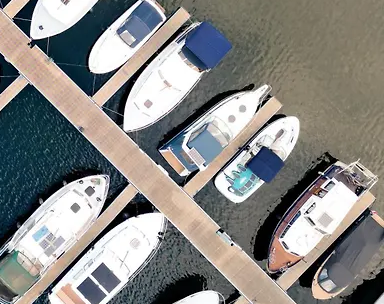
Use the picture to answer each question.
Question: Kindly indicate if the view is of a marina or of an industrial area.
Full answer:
The picture captures a marina.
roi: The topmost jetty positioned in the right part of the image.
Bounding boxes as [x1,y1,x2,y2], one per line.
[182,96,284,202]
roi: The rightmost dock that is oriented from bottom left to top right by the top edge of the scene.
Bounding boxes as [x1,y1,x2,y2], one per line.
[89,6,191,111]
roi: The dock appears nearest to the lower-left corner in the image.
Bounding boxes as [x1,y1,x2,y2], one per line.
[17,178,143,304]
